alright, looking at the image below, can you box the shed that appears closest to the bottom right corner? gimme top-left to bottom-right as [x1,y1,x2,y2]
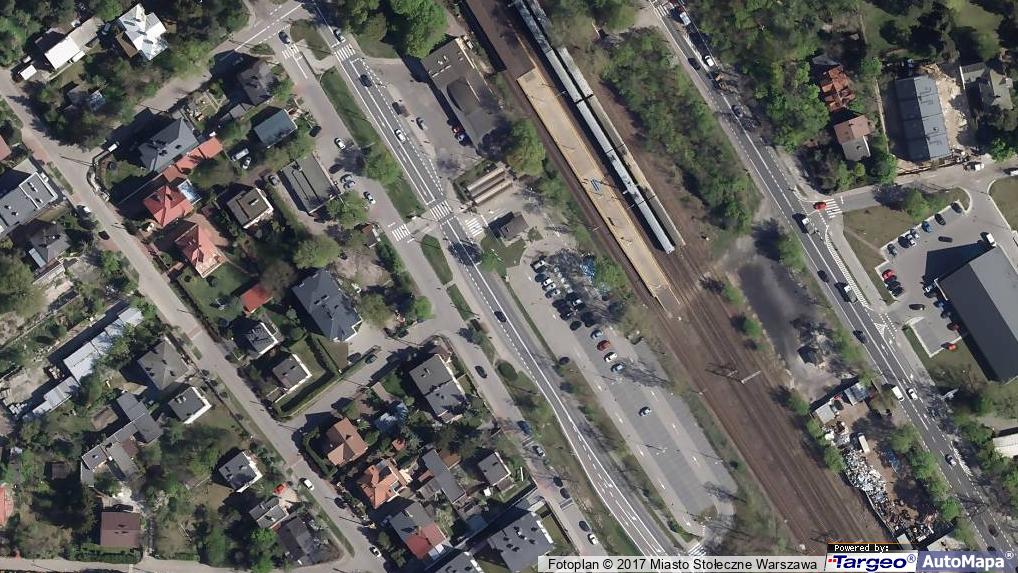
[928,536,960,567]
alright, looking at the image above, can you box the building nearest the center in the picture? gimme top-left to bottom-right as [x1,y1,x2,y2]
[501,213,531,241]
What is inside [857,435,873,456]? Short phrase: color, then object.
white vehicle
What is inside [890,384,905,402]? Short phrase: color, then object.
white vehicle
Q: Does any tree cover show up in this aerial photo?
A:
Yes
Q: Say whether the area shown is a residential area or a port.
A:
residential area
